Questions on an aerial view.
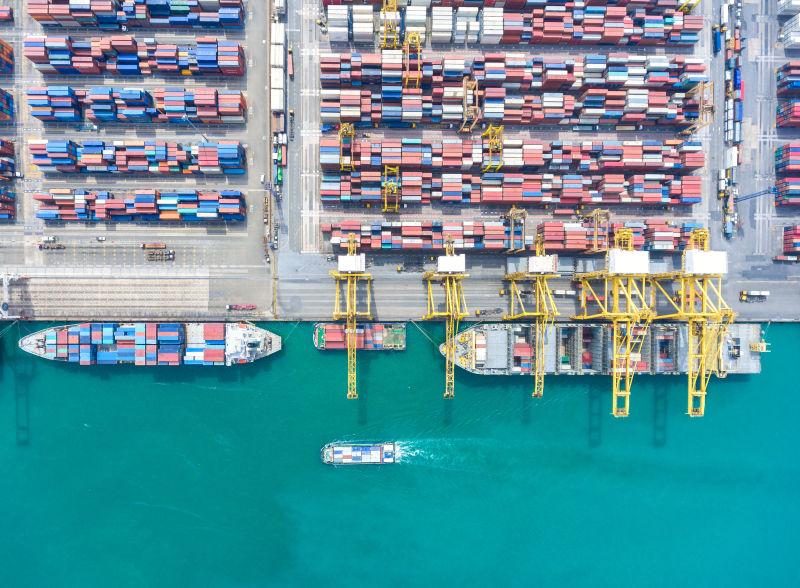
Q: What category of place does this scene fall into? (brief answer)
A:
port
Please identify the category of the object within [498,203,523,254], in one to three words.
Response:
container crane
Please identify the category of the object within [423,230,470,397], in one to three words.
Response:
container crane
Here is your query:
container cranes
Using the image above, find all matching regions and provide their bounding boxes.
[337,118,358,175]
[0,273,31,316]
[402,27,422,90]
[423,230,470,397]
[382,165,402,214]
[498,203,523,254]
[570,223,654,415]
[331,230,379,397]
[577,203,606,254]
[634,223,737,415]
[683,78,719,134]
[502,230,562,397]
[457,77,479,133]
[480,123,503,173]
